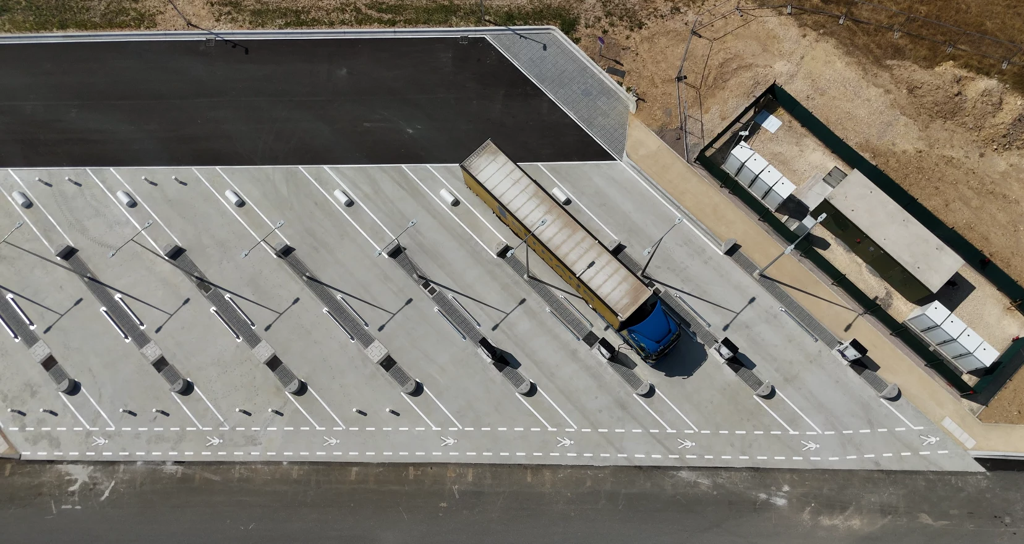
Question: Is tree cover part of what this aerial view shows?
No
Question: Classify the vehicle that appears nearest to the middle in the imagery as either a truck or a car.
truck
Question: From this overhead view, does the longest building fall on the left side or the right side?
right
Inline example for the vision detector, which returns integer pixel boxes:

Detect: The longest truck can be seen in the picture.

[460,137,682,363]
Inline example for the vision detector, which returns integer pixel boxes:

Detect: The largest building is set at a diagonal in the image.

[811,169,965,302]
